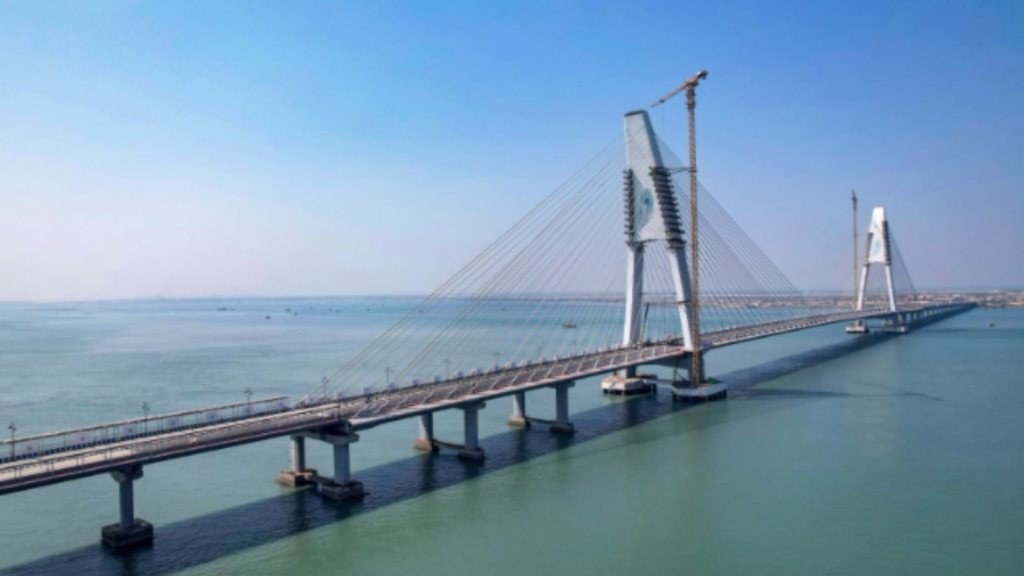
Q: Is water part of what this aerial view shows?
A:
Yes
